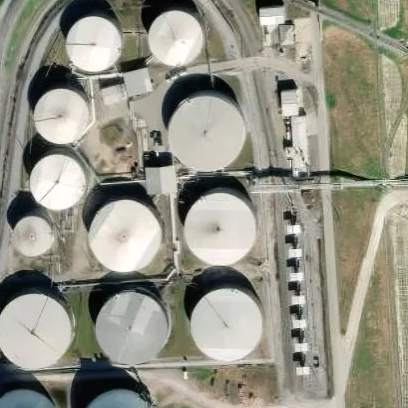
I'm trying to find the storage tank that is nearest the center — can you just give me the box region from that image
[184,188,258,266]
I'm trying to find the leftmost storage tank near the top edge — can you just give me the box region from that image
[65,10,124,73]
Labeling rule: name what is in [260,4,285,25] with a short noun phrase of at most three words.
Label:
shed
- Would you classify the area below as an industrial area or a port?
industrial area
